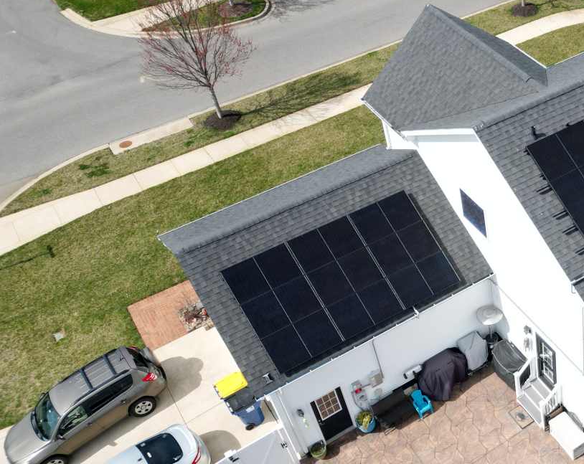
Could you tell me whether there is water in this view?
No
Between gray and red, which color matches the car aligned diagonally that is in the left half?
gray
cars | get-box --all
[0,341,173,464]
[82,421,211,464]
